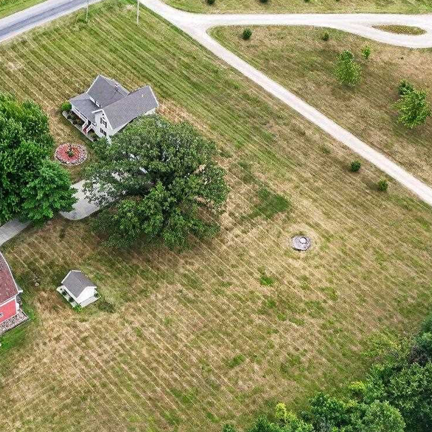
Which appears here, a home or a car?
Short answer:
home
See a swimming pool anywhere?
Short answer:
No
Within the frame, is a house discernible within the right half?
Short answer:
No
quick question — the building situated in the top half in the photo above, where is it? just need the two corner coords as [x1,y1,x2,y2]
[72,74,160,144]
